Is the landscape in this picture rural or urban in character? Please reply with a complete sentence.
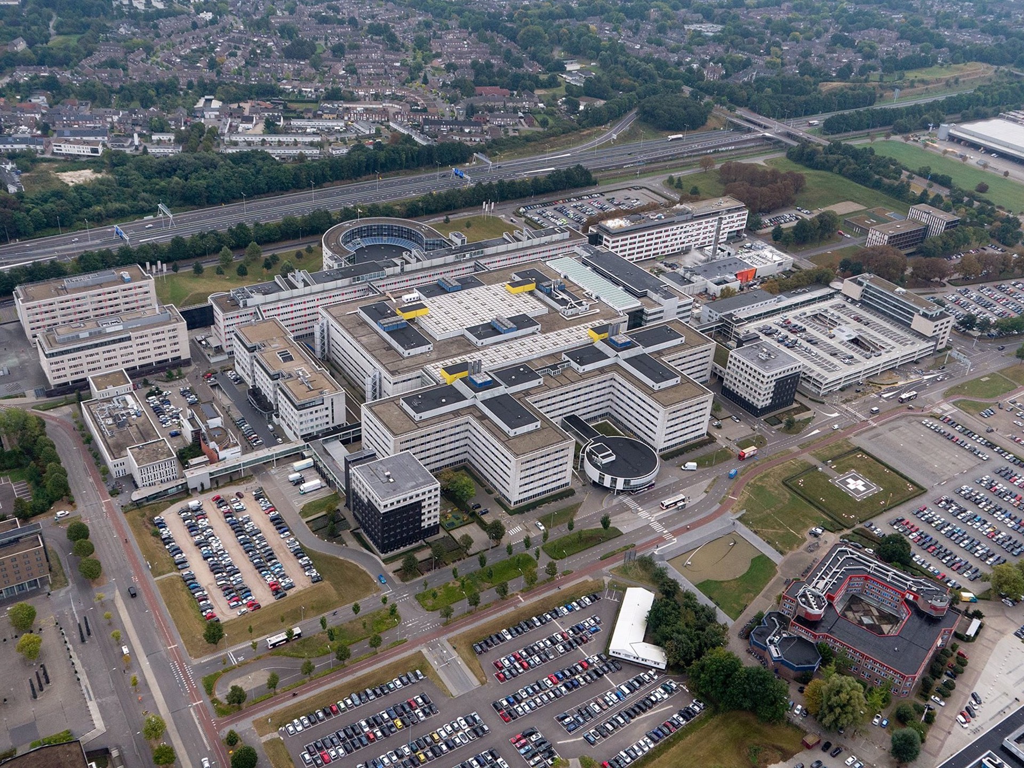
From above, the setting appears urban.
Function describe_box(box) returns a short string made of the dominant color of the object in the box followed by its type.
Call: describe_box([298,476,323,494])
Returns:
white vehicle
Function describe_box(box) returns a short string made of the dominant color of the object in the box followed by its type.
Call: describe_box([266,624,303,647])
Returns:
white bus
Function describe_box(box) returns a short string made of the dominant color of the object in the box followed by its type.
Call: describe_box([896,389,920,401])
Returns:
white vehicle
